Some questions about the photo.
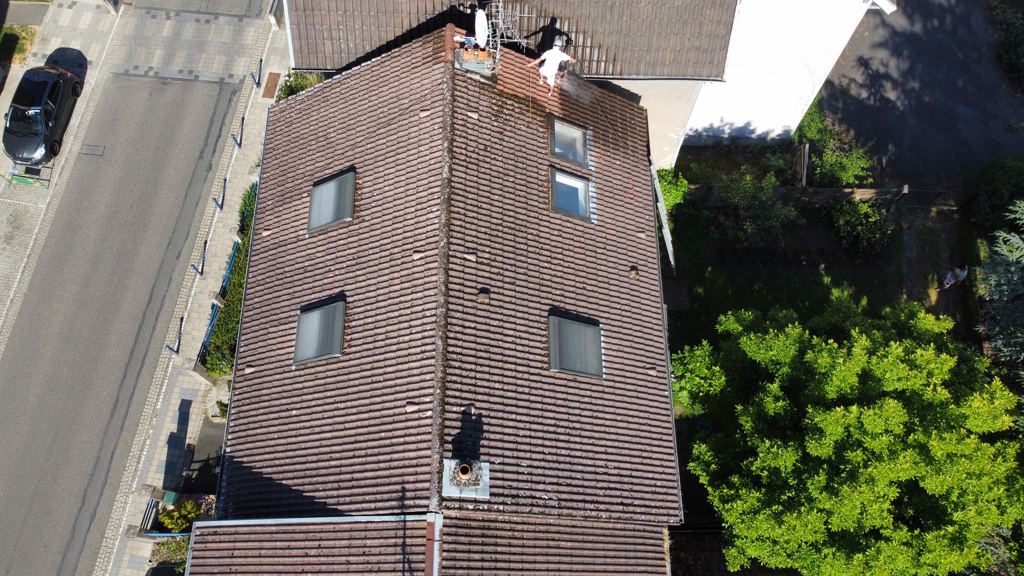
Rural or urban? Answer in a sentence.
It looks urban.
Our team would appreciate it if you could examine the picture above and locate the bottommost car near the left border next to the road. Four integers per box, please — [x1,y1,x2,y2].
[0,63,84,164]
